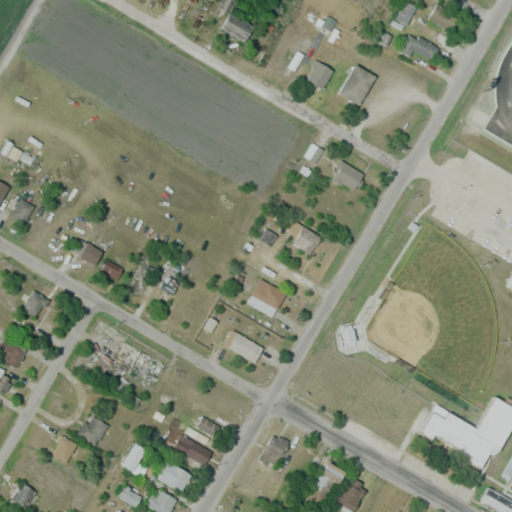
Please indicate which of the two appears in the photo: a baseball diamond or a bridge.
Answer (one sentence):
Of the two, only a baseball diamond appears.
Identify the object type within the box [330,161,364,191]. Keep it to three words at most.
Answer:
house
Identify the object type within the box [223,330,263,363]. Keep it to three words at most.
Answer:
house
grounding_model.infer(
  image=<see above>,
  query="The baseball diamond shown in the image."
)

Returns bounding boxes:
[366,226,497,404]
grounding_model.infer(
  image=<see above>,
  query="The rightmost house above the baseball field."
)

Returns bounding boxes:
[426,6,456,30]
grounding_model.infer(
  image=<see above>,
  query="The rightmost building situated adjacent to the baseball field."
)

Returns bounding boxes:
[422,398,512,469]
